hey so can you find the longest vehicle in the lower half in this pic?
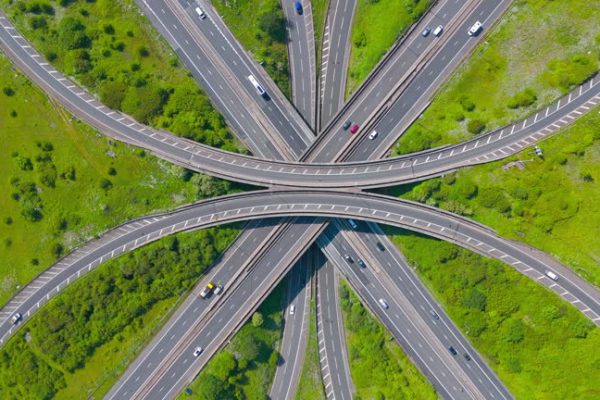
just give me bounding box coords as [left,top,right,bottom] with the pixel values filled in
[197,281,214,298]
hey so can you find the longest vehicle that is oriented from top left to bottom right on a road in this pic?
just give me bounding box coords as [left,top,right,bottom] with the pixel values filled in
[247,73,268,97]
